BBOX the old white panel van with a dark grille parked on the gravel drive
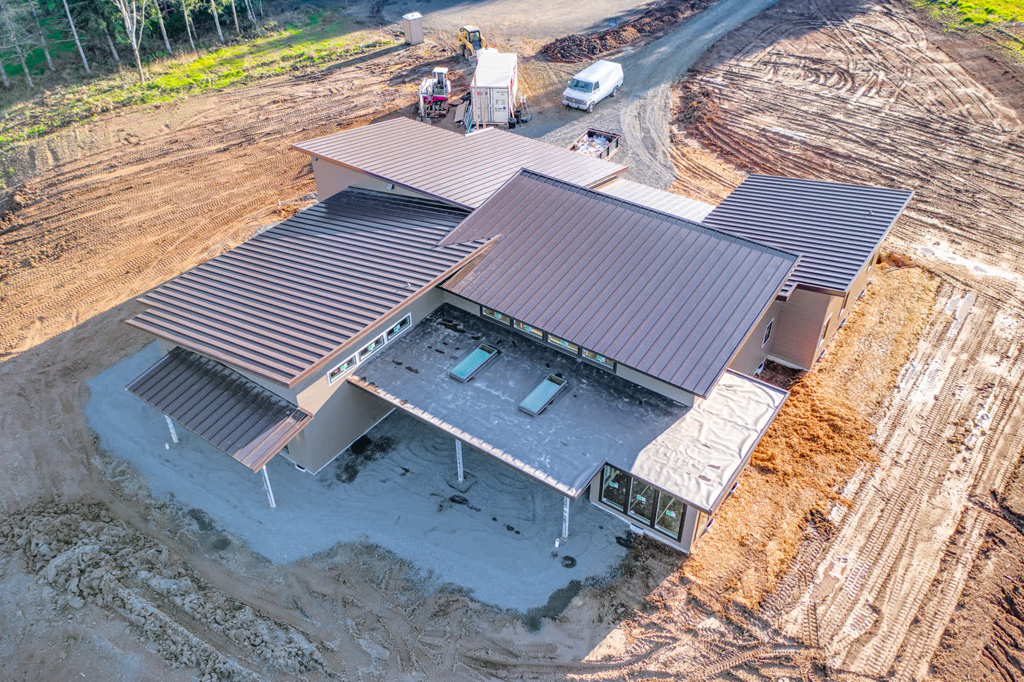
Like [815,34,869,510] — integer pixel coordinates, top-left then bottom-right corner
[561,62,621,110]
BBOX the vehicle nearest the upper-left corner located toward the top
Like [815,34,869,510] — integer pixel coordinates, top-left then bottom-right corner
[419,66,452,115]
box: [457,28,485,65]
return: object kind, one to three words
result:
work vehicle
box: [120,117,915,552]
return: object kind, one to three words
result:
house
